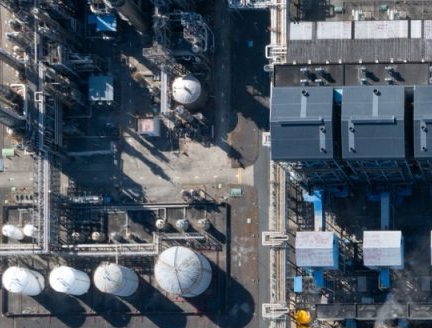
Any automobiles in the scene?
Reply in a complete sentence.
No, there is no automobile in the image.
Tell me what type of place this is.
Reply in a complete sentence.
This image shows an industrial area.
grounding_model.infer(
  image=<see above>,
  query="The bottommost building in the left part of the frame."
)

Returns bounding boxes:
[138,118,166,141]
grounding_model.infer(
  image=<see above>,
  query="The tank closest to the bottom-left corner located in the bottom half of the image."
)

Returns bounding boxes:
[0,267,44,297]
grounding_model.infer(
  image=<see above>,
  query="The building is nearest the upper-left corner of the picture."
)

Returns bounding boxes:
[88,15,131,44]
